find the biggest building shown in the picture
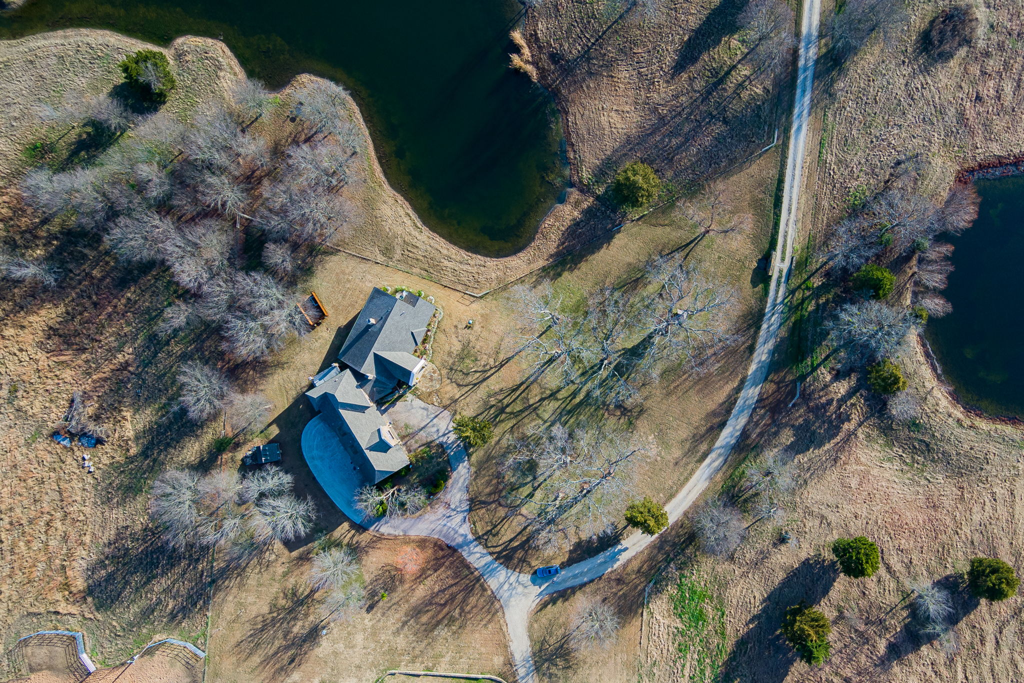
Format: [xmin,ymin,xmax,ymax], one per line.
[304,287,436,489]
